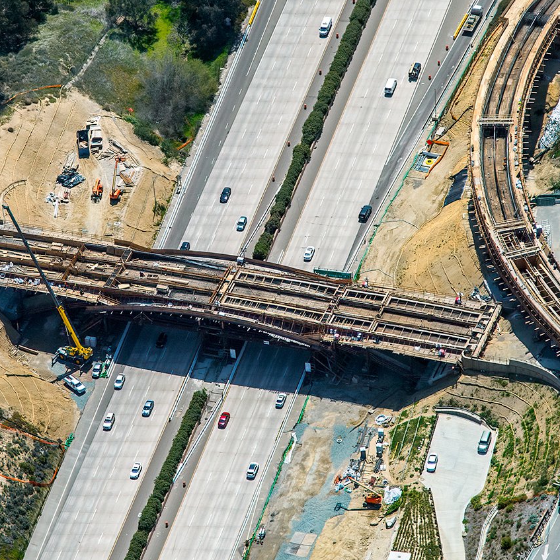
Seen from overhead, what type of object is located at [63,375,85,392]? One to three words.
vehicle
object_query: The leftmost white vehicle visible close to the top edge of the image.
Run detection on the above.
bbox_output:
[319,17,332,34]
